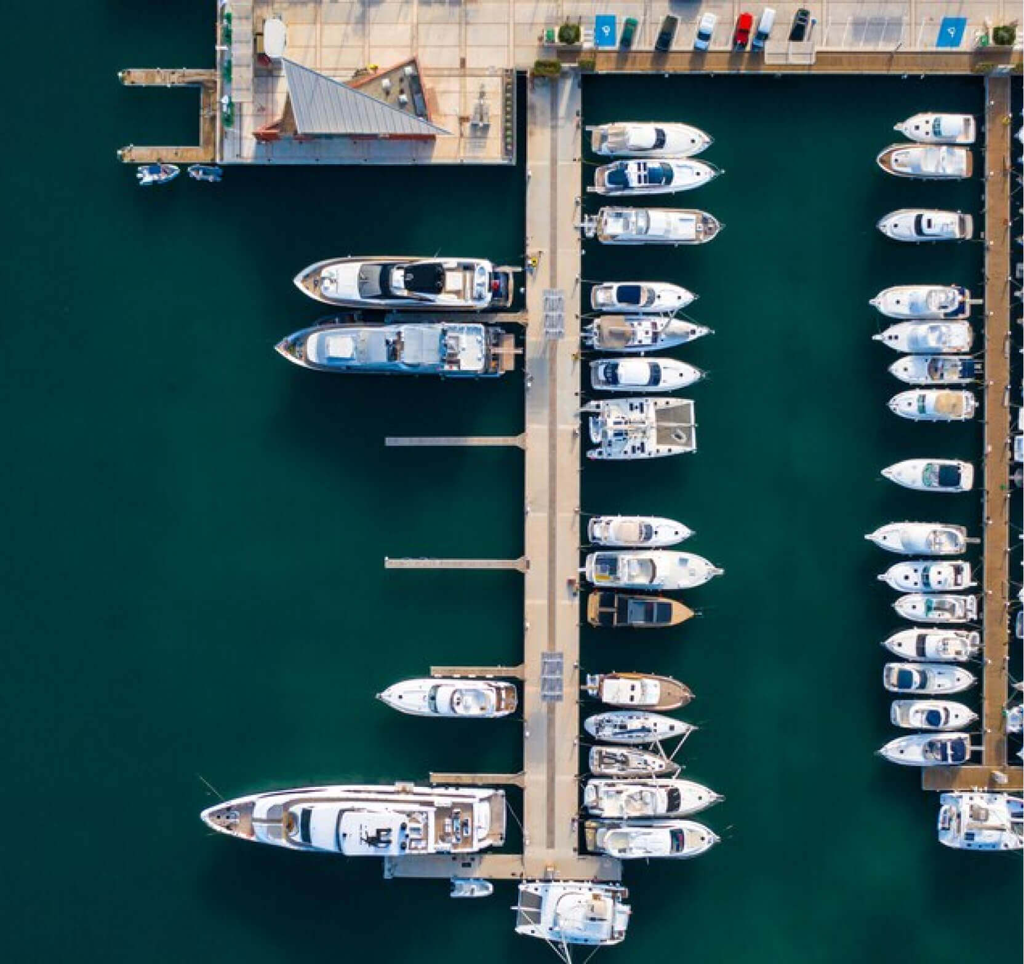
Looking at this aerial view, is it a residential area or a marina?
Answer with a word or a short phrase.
marina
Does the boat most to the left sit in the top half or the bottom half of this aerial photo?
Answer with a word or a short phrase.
top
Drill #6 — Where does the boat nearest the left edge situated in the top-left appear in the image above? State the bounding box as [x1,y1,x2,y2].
[133,163,179,183]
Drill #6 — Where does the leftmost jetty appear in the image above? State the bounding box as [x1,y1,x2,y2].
[118,66,219,164]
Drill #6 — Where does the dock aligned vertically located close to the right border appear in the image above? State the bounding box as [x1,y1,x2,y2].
[921,75,1024,790]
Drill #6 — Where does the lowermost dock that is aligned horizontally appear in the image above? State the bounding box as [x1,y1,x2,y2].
[429,769,522,787]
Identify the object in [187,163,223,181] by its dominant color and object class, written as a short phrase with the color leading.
blue boat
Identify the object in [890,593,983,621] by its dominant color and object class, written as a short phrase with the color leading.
white boat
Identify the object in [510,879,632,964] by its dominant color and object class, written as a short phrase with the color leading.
white boat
